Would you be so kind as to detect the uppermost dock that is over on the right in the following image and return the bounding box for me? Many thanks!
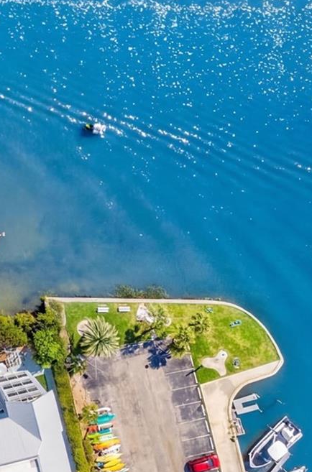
[233,393,263,415]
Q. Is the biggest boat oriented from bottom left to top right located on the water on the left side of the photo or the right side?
right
